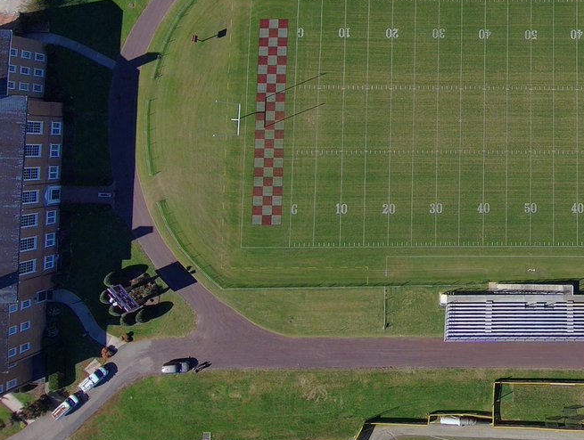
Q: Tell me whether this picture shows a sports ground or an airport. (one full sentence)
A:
The area seen from above is a sports ground.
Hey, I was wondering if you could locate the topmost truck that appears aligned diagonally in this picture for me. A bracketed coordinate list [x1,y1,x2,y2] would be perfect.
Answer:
[72,367,107,394]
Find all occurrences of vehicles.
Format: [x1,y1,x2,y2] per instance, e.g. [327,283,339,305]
[160,362,187,374]
[46,394,80,425]
[72,367,107,394]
